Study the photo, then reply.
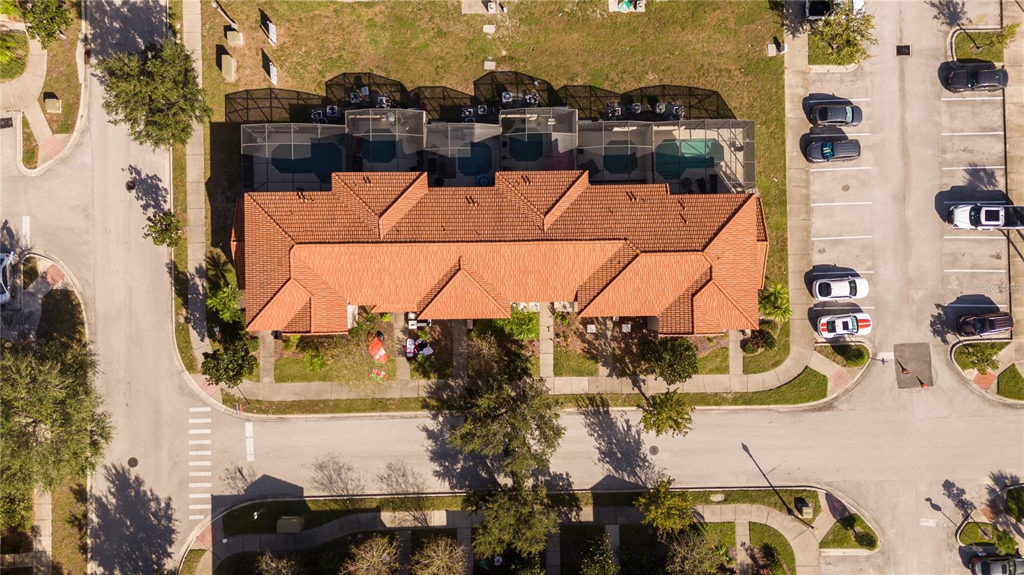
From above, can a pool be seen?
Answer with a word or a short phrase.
Yes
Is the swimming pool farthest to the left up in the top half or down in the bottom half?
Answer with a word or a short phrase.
top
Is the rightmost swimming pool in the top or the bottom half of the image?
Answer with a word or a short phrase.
top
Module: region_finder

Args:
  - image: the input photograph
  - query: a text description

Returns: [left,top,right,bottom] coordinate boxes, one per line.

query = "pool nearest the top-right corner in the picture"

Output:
[654,138,725,180]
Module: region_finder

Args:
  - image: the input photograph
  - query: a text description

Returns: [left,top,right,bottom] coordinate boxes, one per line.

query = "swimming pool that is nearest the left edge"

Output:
[270,143,342,185]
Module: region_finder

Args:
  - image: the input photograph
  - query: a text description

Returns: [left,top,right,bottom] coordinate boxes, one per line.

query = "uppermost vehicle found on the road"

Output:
[945,67,1005,94]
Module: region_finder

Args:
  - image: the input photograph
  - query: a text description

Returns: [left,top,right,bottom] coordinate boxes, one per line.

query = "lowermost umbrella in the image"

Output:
[472,170,493,187]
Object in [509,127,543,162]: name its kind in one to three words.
swimming pool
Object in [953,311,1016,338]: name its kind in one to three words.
car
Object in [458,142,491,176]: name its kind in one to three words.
swimming pool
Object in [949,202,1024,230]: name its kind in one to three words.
truck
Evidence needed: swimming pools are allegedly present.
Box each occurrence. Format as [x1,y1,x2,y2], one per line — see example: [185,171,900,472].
[458,142,491,176]
[604,140,638,174]
[654,138,725,180]
[362,128,397,163]
[270,143,342,185]
[509,127,543,162]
